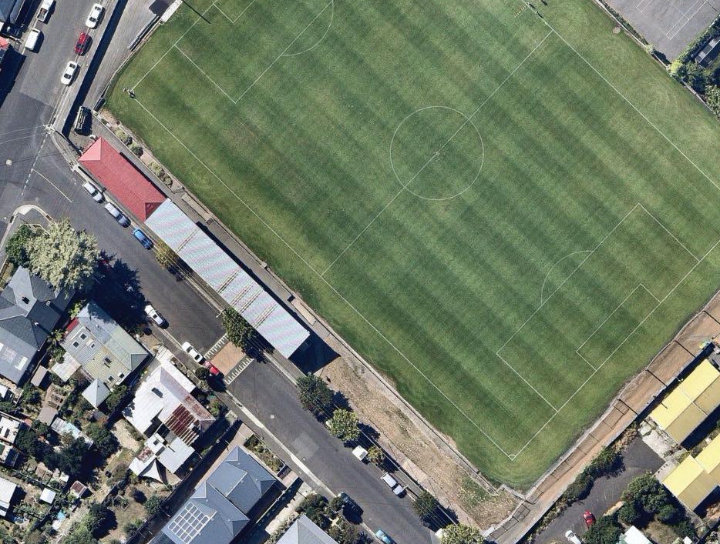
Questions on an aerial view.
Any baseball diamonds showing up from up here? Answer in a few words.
No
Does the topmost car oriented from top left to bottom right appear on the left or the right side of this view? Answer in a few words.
left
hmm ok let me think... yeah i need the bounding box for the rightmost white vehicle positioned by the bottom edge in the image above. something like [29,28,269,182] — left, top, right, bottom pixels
[564,527,585,544]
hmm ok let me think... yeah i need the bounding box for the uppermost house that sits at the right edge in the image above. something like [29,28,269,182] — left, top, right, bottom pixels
[651,359,720,445]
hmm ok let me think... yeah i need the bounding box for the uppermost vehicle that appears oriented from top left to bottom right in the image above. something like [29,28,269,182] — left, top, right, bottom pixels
[83,180,105,203]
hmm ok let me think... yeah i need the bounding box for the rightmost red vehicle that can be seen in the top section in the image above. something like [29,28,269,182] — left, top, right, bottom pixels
[75,32,90,54]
